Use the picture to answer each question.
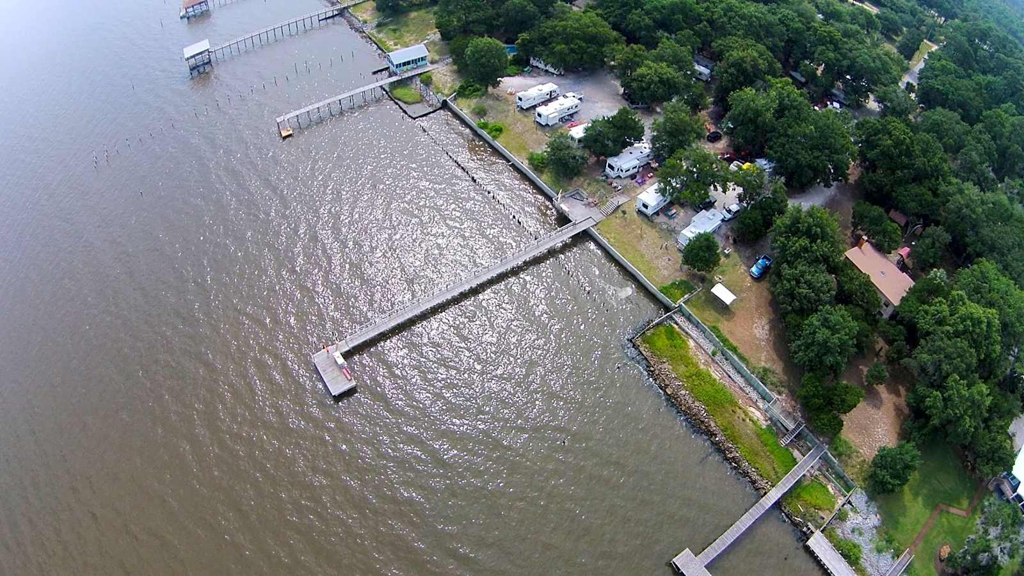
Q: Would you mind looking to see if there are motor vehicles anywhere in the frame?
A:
Yes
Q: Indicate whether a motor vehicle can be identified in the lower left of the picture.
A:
No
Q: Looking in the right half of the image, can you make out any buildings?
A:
Yes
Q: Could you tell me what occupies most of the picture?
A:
water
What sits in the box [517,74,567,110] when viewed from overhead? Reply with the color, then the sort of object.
white vehicle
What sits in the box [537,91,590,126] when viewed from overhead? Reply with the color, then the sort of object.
white vehicle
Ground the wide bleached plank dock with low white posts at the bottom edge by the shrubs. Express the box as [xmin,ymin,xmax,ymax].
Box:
[798,531,863,576]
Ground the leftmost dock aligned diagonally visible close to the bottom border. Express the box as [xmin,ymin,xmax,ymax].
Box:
[668,443,827,576]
